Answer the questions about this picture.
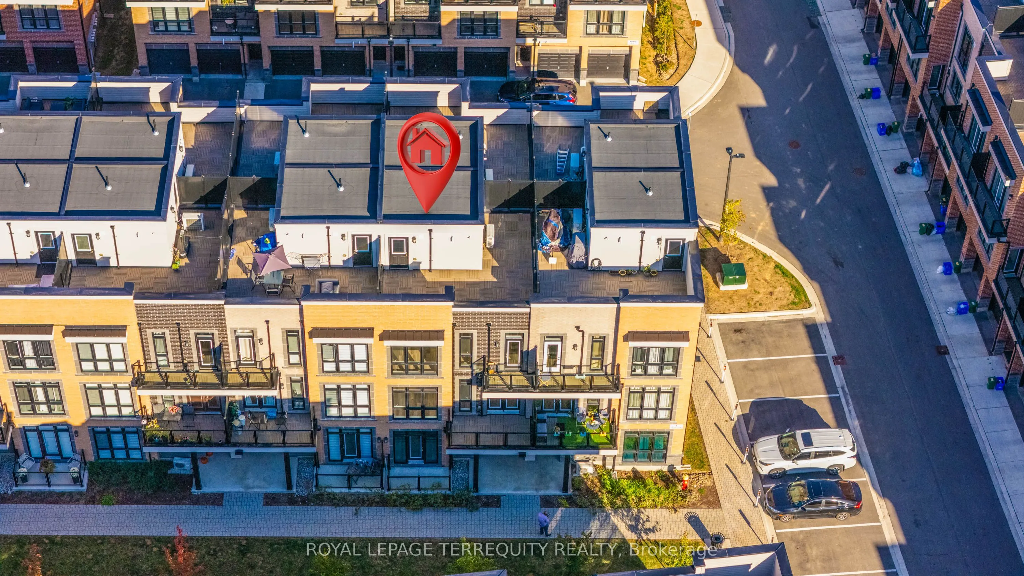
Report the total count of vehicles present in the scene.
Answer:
three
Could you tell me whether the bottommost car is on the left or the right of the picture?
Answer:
right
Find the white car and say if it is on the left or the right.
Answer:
right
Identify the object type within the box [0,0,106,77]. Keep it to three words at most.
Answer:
house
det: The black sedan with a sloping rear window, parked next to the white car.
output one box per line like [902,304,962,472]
[762,479,865,526]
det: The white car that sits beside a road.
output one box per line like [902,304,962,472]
[751,429,860,483]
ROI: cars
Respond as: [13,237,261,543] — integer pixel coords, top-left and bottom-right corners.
[751,429,860,483]
[496,77,580,101]
[762,479,865,526]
